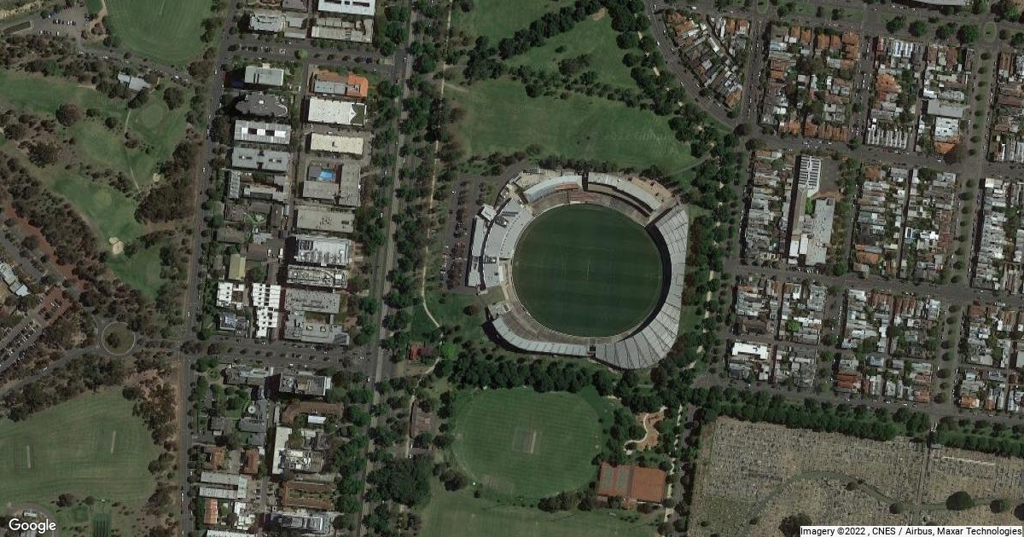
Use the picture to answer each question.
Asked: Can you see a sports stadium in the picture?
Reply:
Yes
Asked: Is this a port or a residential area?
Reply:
residential area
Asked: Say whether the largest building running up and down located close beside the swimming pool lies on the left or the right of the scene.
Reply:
left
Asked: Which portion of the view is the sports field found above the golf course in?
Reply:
top left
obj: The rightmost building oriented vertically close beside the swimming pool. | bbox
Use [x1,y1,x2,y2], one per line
[339,165,360,206]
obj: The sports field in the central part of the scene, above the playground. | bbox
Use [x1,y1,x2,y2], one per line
[512,204,664,337]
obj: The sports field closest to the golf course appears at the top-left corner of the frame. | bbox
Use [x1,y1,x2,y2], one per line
[105,0,212,65]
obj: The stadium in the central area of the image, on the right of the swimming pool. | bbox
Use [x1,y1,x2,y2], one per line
[468,167,691,372]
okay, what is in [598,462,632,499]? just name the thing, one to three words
tennis court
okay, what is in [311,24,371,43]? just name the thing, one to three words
building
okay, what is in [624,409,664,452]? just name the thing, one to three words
playground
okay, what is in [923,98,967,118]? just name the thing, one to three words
house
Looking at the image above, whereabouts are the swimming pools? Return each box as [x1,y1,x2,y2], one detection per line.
[307,164,339,182]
